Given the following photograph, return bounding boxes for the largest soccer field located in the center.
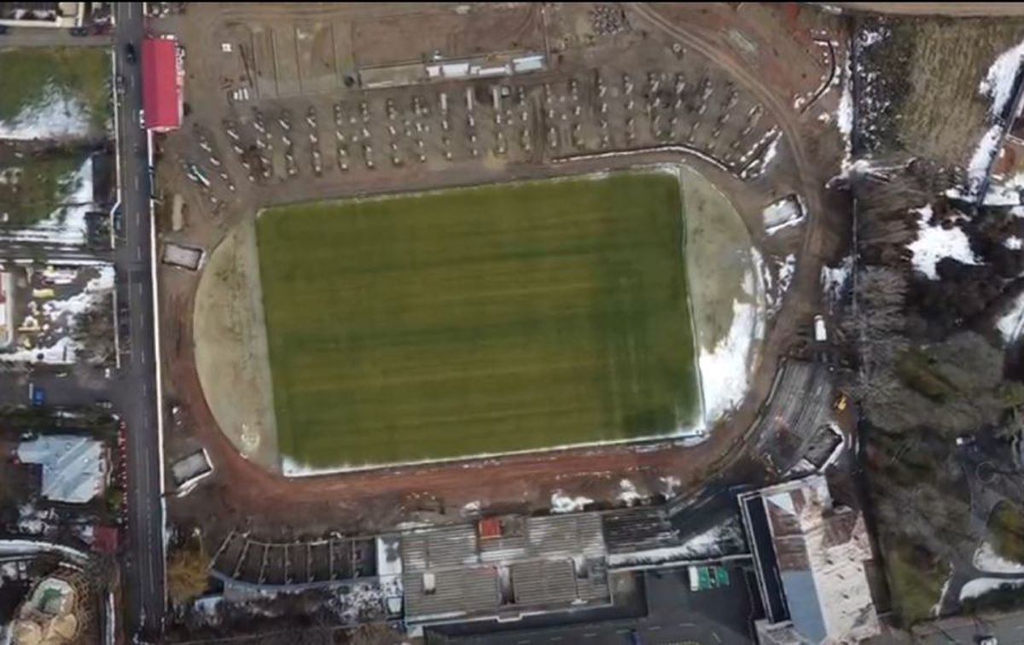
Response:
[258,168,707,477]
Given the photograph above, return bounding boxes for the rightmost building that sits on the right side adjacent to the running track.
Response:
[748,474,880,642]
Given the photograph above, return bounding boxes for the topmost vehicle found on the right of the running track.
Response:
[814,316,829,342]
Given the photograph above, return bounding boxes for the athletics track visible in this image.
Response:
[169,154,799,507]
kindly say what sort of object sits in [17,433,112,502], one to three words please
house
